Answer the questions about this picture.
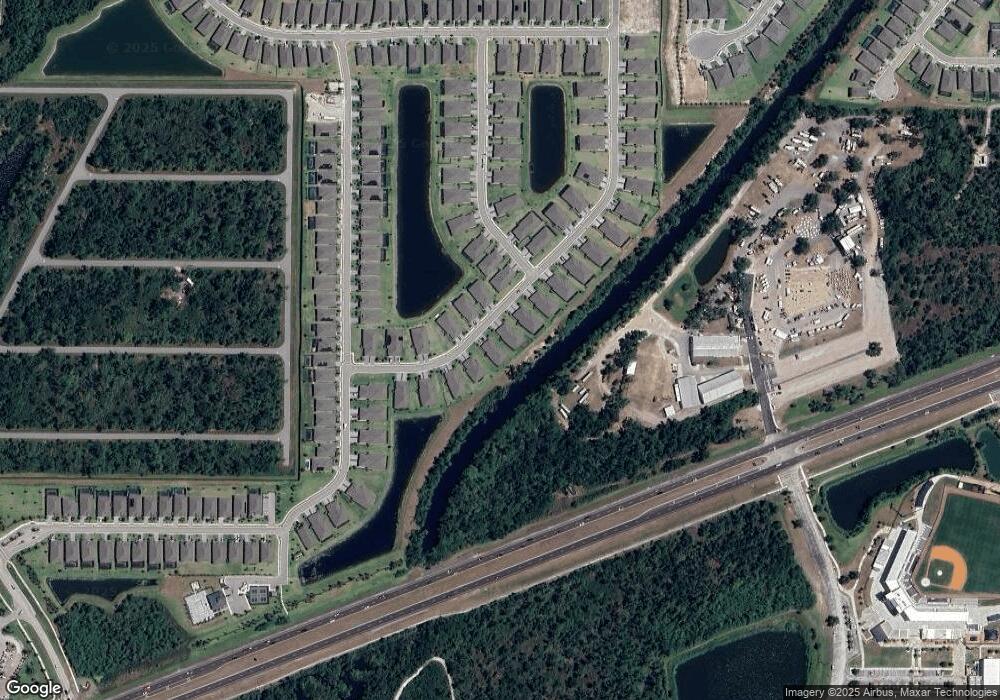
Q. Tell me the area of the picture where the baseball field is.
bottom right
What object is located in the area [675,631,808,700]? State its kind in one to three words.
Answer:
pond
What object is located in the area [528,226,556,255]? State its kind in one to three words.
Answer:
house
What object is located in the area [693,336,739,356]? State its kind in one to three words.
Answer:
building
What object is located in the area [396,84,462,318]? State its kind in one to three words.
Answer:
pond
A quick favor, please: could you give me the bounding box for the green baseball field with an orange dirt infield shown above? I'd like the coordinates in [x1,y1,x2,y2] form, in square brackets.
[912,484,1000,598]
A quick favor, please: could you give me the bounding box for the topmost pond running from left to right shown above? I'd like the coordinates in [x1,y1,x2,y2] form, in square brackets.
[45,0,222,75]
